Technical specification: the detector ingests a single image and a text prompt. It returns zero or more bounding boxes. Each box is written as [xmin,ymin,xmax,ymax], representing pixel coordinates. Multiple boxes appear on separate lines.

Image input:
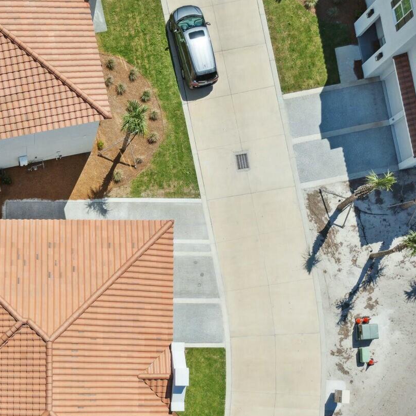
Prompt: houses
[0,216,195,416]
[357,0,416,169]
[0,0,114,171]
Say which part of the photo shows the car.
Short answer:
top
